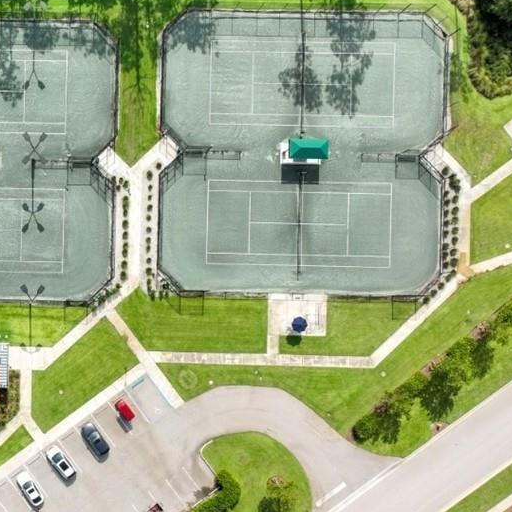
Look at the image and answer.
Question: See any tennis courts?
Yes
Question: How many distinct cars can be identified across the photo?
three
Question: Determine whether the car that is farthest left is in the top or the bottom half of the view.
bottom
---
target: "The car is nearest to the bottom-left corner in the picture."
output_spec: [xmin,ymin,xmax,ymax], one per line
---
[16,469,47,509]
